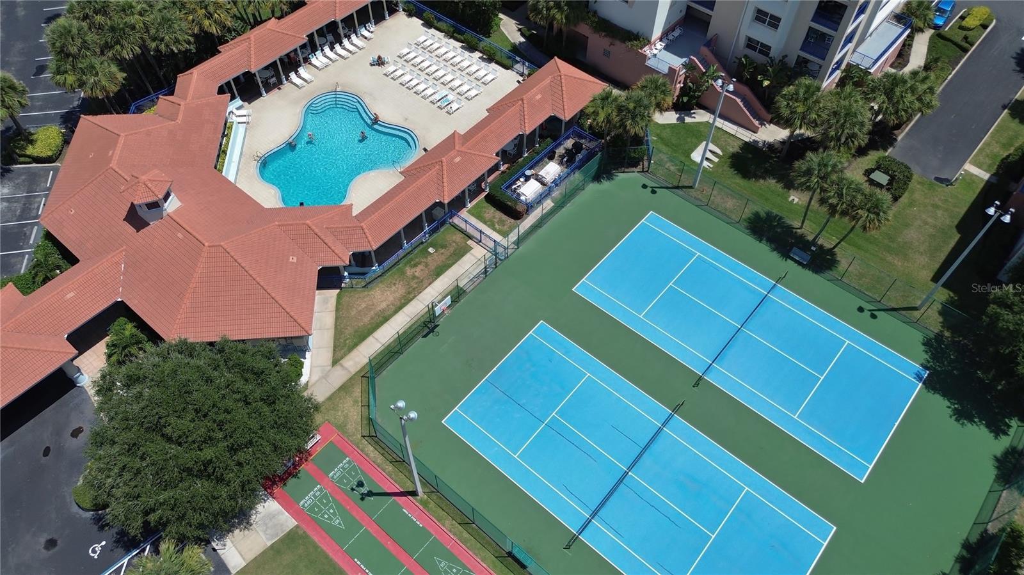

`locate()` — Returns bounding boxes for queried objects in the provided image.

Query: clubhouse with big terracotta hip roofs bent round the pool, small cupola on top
[0,93,355,450]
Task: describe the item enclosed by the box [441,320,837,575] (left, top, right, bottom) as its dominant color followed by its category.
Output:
blue tennis court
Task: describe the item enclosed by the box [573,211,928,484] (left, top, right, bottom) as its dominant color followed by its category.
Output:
blue tennis court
